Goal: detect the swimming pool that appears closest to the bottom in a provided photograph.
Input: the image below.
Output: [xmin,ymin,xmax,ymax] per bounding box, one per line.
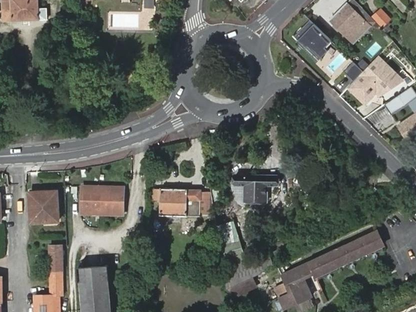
[326,55,345,74]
